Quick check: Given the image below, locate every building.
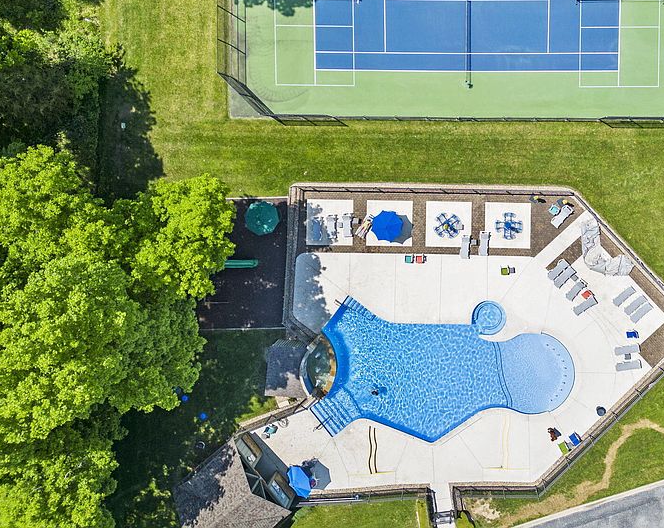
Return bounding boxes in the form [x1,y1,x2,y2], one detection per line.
[172,429,299,528]
[265,340,310,401]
